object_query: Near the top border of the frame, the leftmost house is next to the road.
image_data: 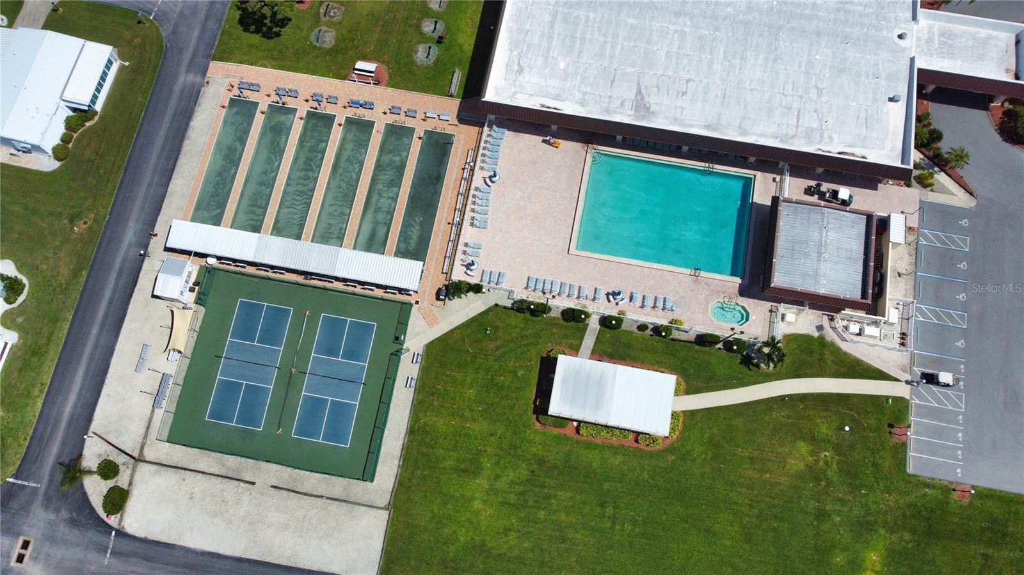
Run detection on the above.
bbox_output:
[0,23,129,154]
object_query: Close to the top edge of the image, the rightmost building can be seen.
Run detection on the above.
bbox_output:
[475,0,920,181]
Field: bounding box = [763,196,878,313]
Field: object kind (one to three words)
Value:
building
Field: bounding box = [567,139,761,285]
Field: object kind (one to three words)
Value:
swimming pool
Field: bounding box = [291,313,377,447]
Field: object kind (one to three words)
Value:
sports court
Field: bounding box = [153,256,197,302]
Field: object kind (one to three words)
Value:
shed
